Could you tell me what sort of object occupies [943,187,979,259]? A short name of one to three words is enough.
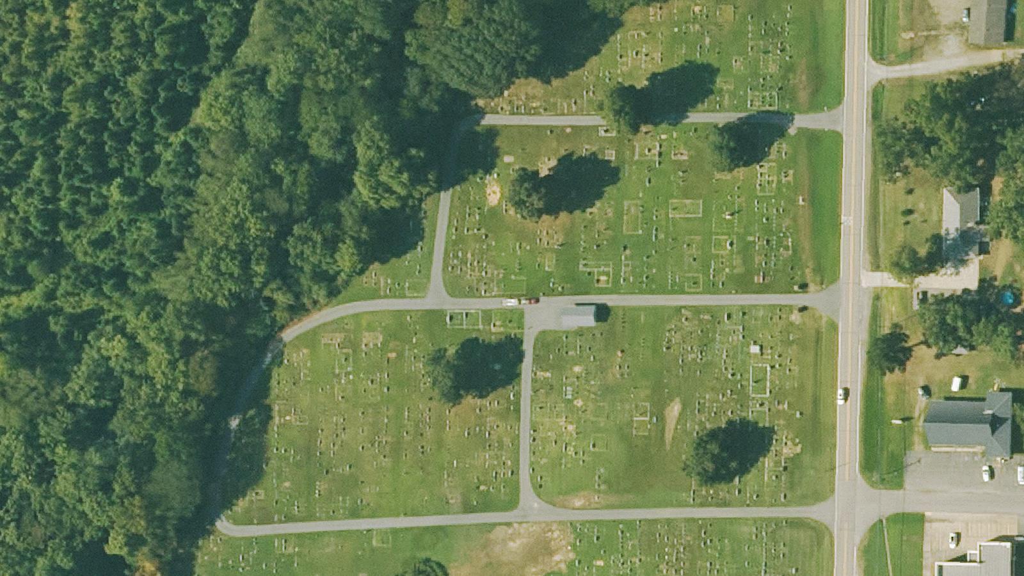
house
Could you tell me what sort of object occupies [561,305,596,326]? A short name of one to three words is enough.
shed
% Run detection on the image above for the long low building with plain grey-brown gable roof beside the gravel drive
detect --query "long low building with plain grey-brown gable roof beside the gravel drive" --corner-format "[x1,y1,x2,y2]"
[970,0,1006,44]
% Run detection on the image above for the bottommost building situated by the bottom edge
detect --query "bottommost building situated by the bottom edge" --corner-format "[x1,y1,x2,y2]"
[934,541,1011,576]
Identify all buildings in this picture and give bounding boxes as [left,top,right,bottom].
[970,0,1006,44]
[934,541,1011,576]
[561,305,596,326]
[943,187,979,259]
[924,392,1012,456]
